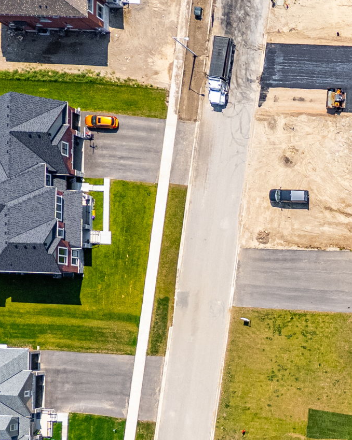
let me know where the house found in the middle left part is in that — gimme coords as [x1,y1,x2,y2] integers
[0,90,101,277]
